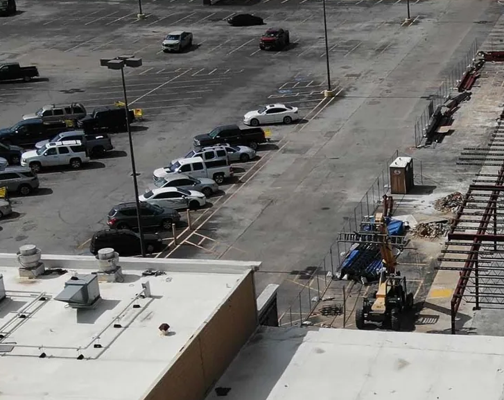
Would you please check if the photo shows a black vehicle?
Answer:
Yes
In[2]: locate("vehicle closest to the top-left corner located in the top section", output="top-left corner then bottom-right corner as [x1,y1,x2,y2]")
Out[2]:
[0,0,21,16]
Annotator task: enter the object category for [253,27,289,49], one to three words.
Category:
truck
